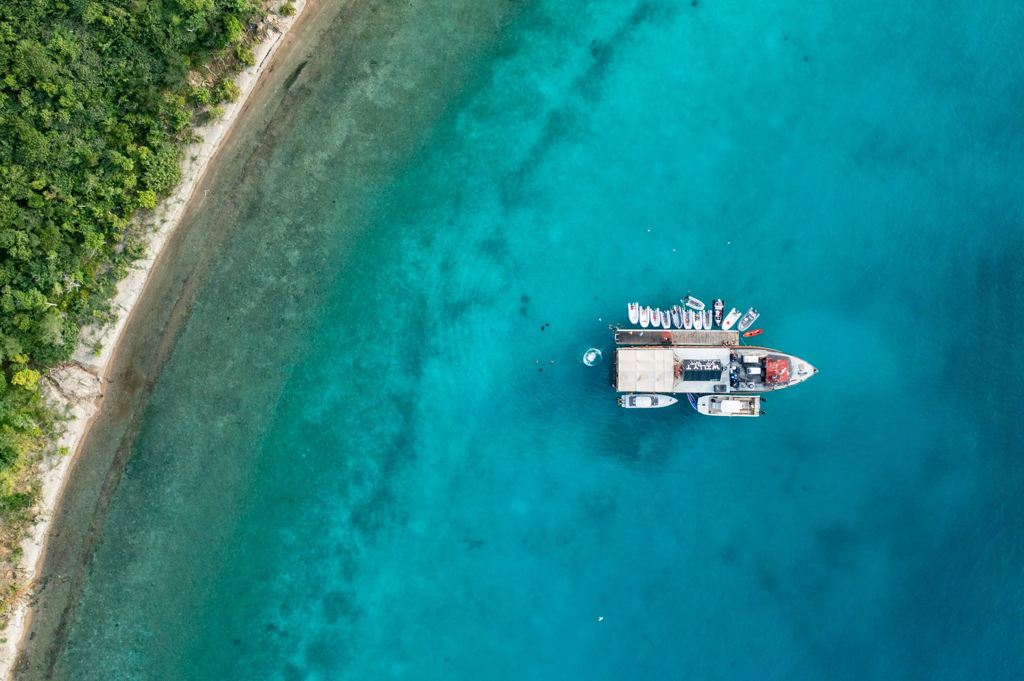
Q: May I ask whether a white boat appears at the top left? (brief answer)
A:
No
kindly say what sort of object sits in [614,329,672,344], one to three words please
pier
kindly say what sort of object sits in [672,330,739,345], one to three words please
pier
